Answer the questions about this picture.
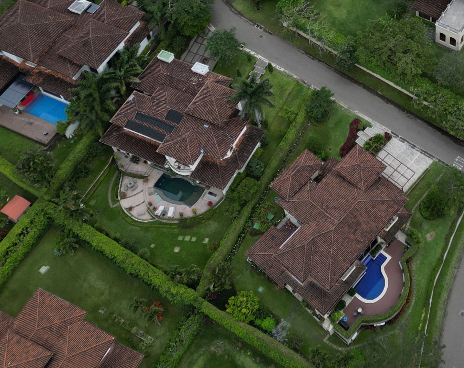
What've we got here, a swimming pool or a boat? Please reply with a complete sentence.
There is a swimming pool in the scene.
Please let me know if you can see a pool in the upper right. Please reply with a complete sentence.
No, no pool is visible in the upper right.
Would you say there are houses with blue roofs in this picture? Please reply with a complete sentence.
No, I can see no house with a blue roof in this picture.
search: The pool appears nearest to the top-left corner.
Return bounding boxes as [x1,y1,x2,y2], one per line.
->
[20,92,62,128]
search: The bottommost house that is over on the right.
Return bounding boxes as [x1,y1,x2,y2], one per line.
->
[245,144,413,319]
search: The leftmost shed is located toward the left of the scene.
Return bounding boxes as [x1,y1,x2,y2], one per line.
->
[0,195,31,223]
